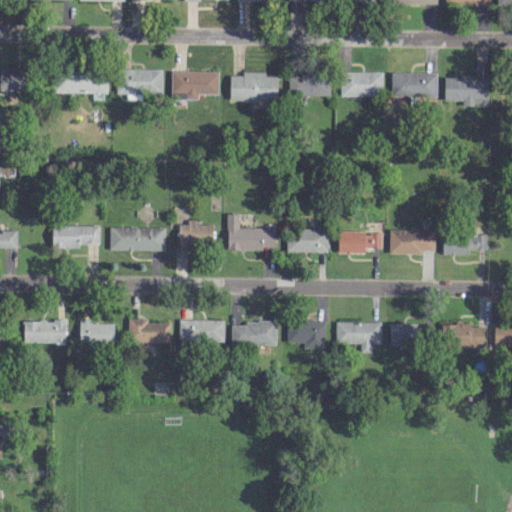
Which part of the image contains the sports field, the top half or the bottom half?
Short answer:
bottom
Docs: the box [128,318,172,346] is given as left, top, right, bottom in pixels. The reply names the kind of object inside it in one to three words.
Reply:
house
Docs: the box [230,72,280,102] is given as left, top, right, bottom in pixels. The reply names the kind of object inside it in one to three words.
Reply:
house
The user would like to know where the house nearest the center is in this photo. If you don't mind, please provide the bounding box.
[227,214,280,251]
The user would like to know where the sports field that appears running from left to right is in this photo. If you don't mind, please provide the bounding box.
[56,412,512,512]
